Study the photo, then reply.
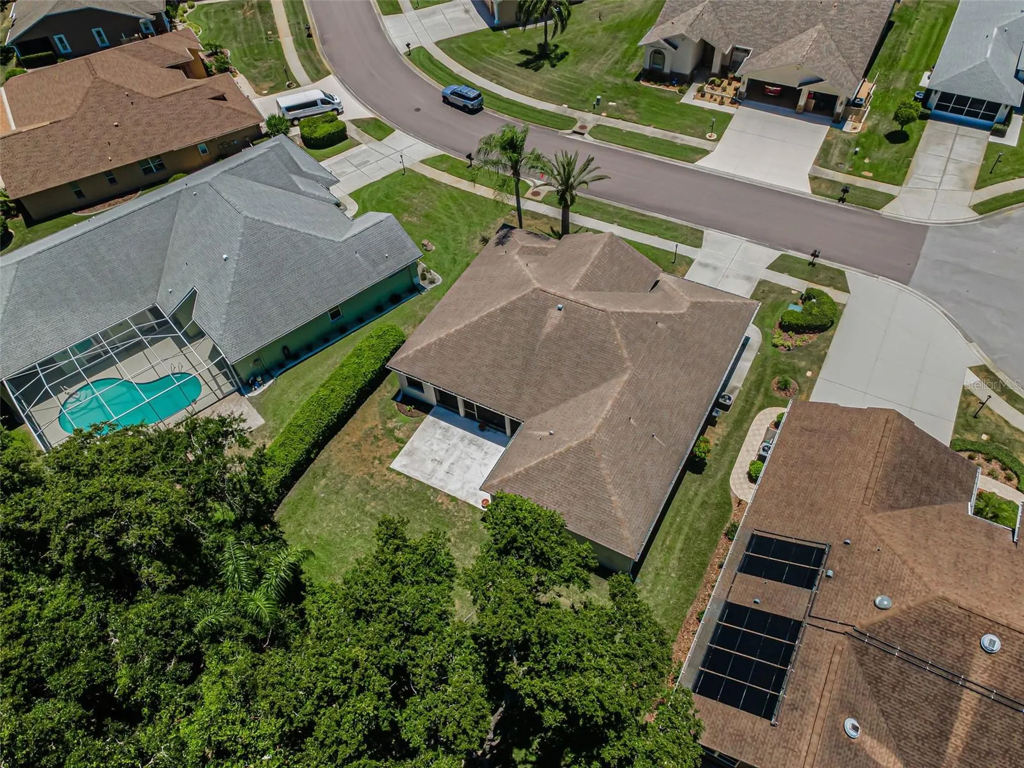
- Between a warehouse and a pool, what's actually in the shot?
pool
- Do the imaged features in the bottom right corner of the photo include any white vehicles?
No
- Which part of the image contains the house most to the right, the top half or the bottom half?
top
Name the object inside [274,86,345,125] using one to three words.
van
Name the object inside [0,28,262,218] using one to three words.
house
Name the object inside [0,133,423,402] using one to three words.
house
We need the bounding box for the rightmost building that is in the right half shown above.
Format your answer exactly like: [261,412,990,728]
[924,0,1024,125]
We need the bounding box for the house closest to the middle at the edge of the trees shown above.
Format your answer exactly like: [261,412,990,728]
[385,223,762,567]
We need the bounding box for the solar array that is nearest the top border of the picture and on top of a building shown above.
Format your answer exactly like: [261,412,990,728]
[737,533,829,590]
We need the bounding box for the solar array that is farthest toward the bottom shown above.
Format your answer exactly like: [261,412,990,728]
[691,601,806,720]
